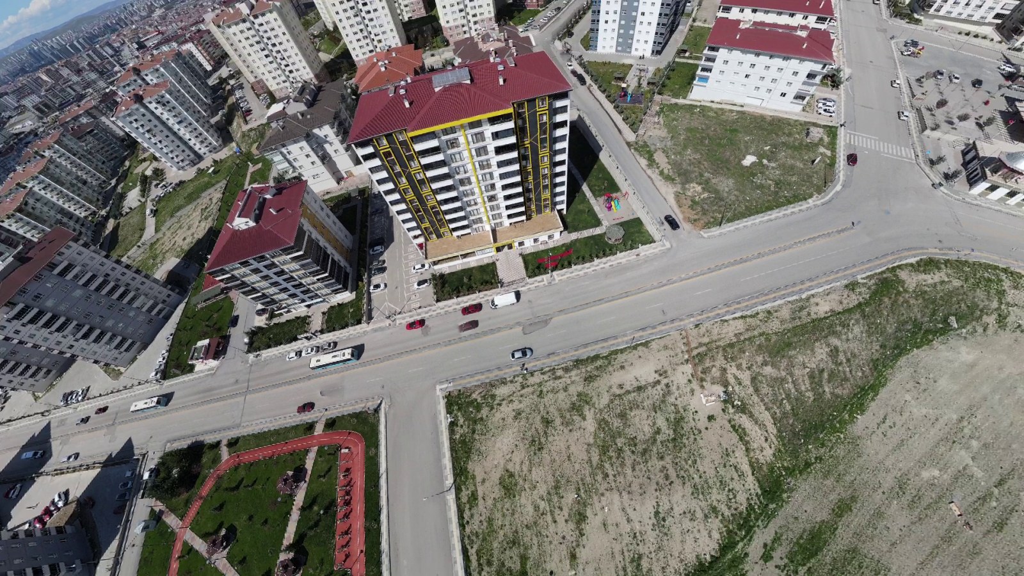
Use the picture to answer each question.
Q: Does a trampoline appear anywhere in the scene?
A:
No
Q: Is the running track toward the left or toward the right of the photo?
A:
left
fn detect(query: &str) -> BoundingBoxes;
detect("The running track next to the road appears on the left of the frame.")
[170,431,365,576]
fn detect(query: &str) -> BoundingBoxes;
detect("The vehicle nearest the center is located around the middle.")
[492,289,517,306]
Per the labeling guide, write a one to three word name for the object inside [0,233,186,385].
building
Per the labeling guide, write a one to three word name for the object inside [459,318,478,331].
vehicle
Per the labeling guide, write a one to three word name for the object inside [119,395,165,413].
vehicle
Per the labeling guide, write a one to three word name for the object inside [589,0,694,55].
building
